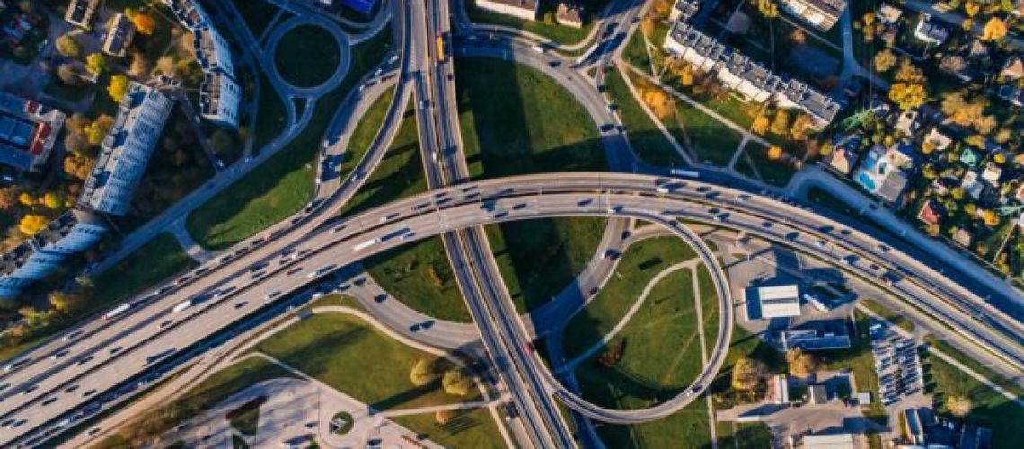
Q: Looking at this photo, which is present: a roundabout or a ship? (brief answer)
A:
roundabout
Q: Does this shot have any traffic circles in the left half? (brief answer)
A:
Yes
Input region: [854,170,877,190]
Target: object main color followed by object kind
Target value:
blue swimming pool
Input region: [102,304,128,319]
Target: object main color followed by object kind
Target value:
white vehicle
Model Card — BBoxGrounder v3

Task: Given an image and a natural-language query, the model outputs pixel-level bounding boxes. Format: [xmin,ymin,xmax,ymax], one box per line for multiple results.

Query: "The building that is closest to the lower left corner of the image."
[0,208,107,295]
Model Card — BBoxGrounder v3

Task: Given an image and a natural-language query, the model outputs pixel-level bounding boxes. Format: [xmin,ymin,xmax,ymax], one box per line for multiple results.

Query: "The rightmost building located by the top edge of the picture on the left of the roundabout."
[171,0,240,127]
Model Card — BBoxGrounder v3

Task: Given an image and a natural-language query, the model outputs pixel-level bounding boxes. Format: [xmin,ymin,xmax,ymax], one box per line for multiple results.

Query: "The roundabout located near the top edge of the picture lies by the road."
[263,12,351,99]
